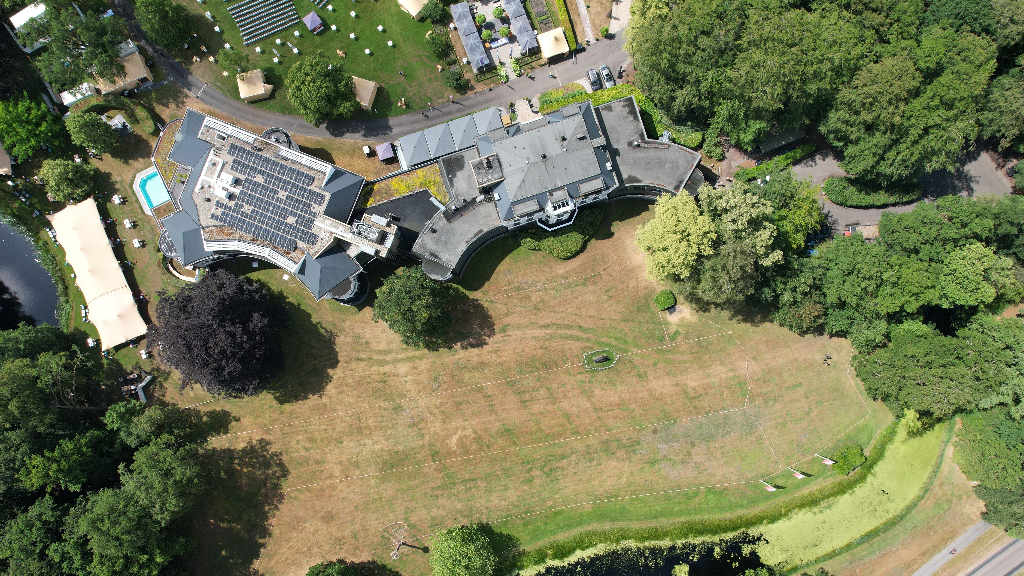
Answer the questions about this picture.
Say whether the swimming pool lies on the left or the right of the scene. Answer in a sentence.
The swimming pool sits on the left side.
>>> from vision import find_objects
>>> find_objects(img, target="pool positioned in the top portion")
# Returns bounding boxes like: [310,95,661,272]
[133,165,172,215]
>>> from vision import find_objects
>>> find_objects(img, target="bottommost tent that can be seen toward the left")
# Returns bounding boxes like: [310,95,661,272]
[46,195,148,351]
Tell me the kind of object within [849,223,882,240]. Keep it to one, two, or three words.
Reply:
building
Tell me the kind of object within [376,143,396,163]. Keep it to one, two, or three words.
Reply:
gazebo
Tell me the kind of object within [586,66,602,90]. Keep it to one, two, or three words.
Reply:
car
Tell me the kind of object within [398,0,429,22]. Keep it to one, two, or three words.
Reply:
tent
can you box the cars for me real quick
[586,66,602,90]
[1005,165,1024,177]
[599,62,616,87]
